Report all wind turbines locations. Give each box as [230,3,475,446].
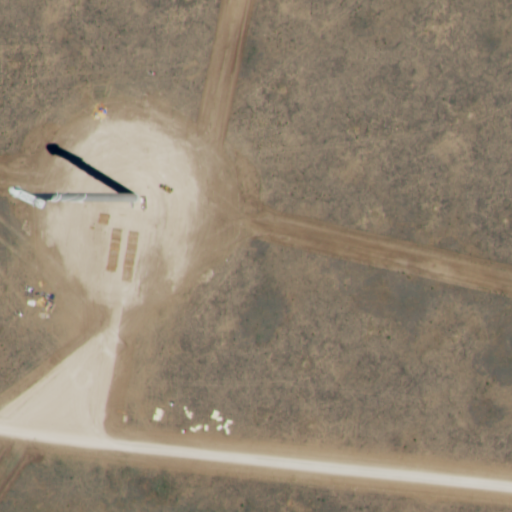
[8,184,140,210]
